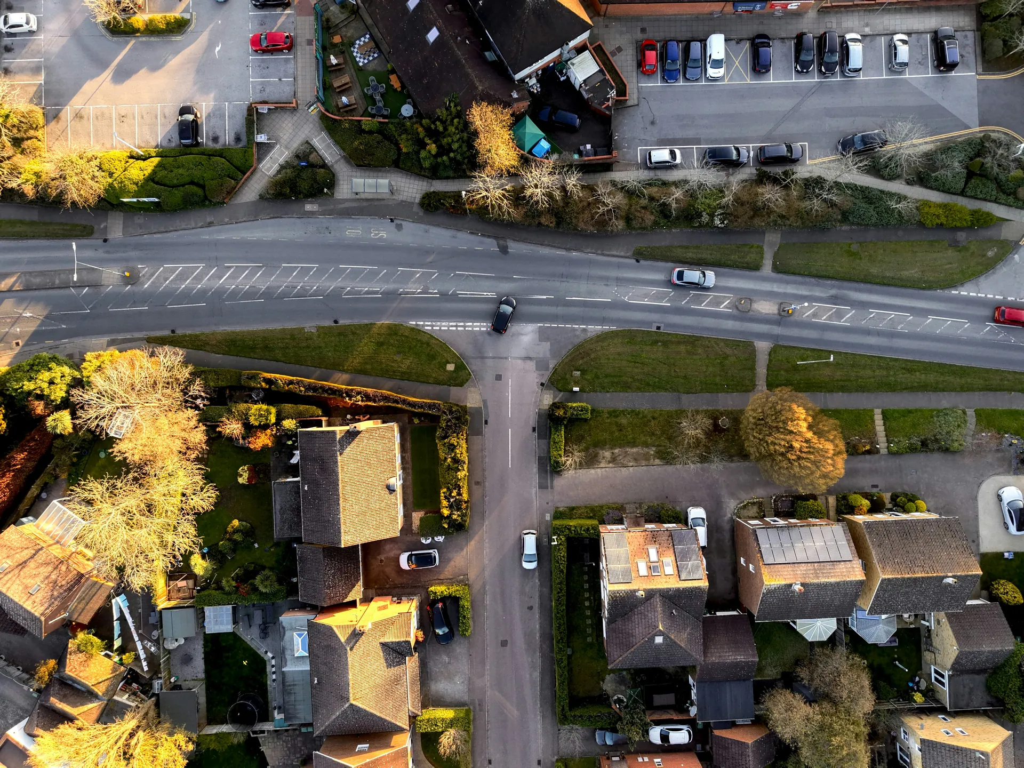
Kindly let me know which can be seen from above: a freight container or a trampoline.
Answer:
trampoline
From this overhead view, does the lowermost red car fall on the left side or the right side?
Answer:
right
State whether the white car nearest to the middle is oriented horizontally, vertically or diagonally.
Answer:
vertically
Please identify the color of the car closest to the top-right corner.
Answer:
black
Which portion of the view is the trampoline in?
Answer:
bottom left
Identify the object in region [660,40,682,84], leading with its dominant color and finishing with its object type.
blue car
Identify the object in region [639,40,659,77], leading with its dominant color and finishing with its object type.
red car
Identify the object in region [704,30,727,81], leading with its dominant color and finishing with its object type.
white vehicle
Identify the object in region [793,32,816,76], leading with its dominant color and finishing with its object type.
black car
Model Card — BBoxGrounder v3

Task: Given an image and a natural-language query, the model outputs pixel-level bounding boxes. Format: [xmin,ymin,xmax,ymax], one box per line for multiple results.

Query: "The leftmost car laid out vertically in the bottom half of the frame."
[429,598,455,644]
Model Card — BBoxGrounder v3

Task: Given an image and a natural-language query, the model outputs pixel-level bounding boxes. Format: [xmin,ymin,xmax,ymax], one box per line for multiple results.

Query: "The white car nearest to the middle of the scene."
[519,529,539,570]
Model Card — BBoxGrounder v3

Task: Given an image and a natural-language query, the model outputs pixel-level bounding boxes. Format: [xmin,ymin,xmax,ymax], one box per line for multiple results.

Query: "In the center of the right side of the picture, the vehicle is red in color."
[990,306,1024,327]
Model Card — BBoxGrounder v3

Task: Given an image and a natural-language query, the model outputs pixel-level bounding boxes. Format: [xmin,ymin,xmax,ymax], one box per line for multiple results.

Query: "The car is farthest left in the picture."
[0,11,39,34]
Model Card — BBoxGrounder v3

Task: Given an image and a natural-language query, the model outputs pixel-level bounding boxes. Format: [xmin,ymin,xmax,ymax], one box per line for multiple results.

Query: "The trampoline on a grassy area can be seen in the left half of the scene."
[227,694,263,730]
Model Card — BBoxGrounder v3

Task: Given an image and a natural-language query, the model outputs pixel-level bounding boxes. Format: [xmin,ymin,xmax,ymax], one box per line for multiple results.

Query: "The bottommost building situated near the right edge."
[895,711,1015,768]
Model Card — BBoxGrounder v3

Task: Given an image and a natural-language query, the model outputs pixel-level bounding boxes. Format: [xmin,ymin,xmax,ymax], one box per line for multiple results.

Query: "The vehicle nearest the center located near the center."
[490,295,517,337]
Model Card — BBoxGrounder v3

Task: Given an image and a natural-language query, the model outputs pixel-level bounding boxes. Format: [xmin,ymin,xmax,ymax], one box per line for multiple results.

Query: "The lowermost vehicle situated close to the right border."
[995,488,1024,535]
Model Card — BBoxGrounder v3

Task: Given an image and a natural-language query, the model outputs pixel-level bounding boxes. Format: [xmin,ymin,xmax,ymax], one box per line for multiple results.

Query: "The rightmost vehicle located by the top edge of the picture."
[932,27,959,73]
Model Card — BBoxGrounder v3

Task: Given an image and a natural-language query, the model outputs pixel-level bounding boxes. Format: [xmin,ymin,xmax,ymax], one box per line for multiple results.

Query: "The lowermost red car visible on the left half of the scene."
[252,31,294,54]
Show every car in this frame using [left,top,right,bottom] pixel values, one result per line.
[886,33,910,73]
[682,41,704,82]
[840,34,864,78]
[252,31,294,54]
[932,27,959,73]
[793,32,816,76]
[0,11,39,34]
[995,488,1024,535]
[536,104,582,134]
[648,723,693,748]
[400,549,439,571]
[836,128,887,157]
[639,40,659,77]
[429,598,455,644]
[592,726,630,750]
[519,529,539,570]
[816,30,839,77]
[750,35,773,76]
[176,105,200,148]
[703,144,748,167]
[660,40,682,84]
[687,506,710,550]
[490,295,517,337]
[251,0,292,13]
[990,306,1024,327]
[757,142,801,164]
[645,147,681,168]
[669,267,714,289]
